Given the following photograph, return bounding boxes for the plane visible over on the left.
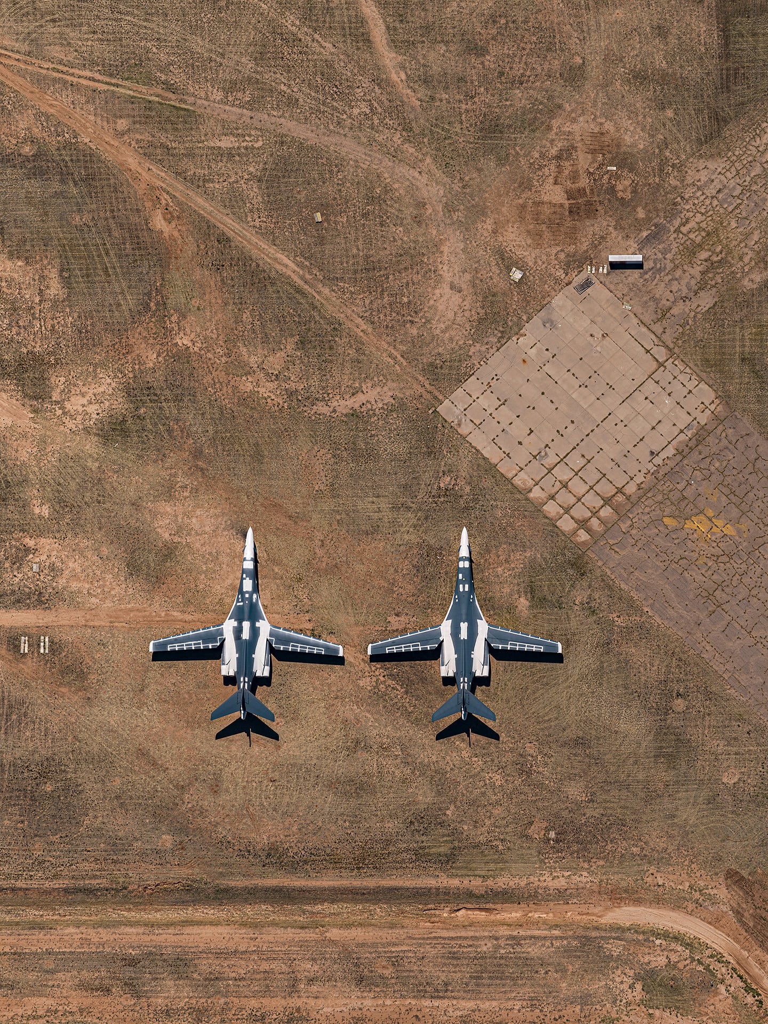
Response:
[149,527,344,723]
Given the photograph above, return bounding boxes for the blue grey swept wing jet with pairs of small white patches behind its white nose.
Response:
[368,527,563,722]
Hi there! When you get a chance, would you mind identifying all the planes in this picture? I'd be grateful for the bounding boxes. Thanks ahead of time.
[149,527,344,723]
[368,527,563,722]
